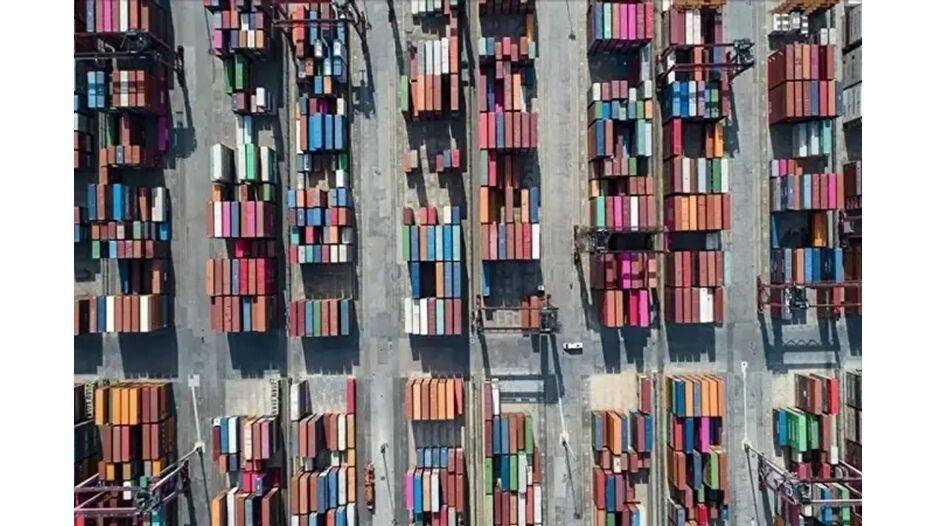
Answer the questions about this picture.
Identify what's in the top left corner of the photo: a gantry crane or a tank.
gantry crane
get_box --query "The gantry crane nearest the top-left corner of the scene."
[63,31,182,79]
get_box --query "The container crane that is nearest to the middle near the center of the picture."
[468,292,558,336]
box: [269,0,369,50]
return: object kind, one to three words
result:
container crane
